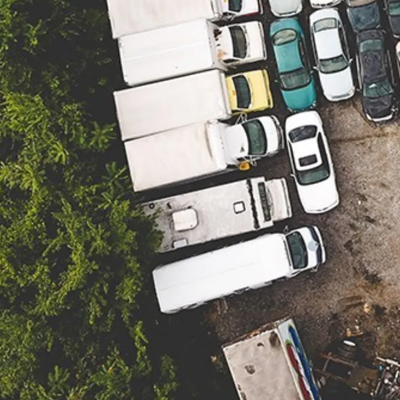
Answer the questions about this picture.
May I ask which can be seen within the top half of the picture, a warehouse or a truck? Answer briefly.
truck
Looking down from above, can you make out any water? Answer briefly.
No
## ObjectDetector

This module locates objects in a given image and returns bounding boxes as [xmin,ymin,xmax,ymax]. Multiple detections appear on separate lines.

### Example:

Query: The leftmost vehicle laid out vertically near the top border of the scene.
[268,15,320,113]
